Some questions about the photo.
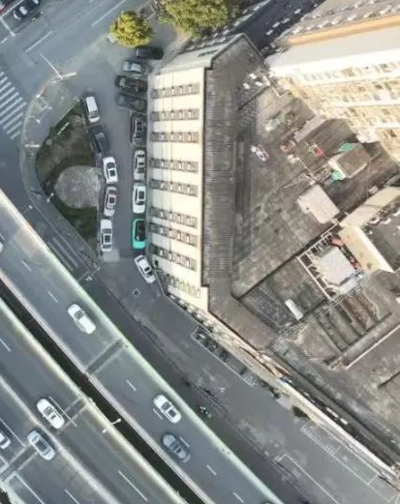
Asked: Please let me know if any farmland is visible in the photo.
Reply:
No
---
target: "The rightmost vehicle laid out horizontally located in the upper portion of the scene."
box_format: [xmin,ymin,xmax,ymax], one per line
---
[133,45,164,59]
